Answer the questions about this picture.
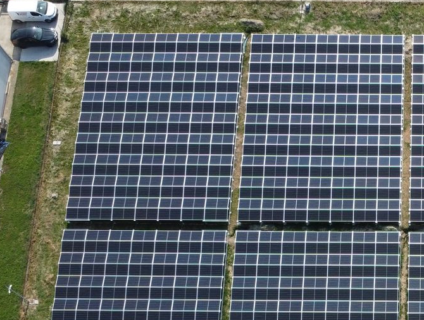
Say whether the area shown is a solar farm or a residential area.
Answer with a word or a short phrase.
solar farm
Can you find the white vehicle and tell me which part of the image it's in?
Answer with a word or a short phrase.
top left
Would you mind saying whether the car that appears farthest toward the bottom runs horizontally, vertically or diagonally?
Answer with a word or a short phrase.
horizontally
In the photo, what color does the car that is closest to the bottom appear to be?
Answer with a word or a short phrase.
black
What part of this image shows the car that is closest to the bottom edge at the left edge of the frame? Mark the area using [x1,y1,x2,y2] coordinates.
[10,23,58,47]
